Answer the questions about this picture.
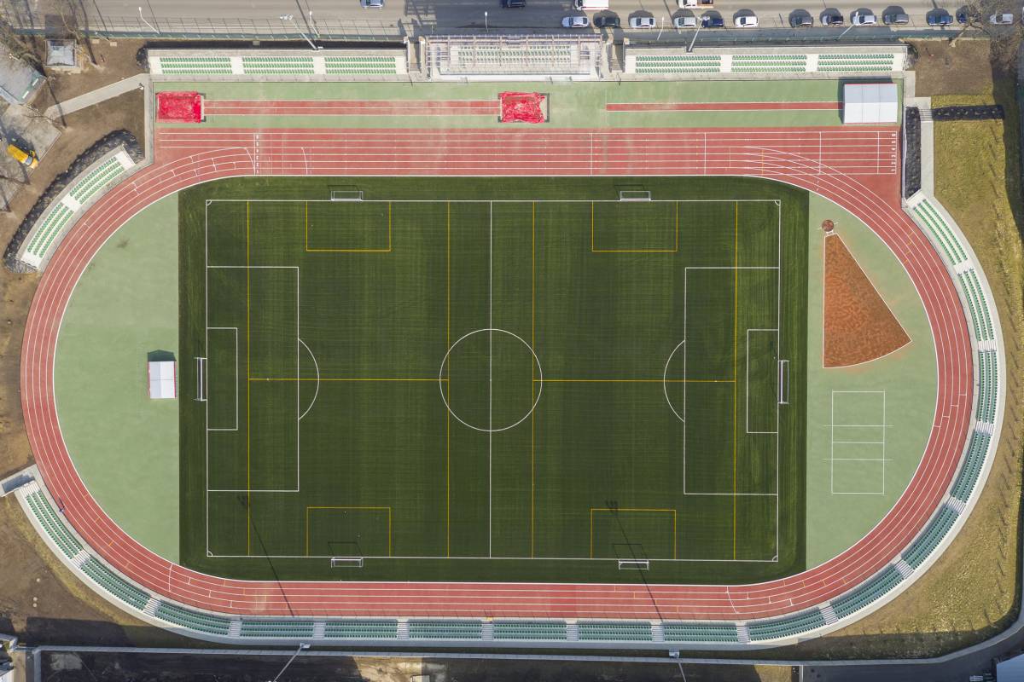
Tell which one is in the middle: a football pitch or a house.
football pitch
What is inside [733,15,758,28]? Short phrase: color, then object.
white vehicle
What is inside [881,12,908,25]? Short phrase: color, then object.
gray vehicle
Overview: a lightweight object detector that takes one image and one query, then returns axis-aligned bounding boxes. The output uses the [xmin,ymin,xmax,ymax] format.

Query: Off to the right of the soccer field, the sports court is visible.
[832,391,885,494]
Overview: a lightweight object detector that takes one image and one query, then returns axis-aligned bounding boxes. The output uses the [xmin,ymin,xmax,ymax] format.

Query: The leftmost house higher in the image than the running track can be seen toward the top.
[0,37,52,106]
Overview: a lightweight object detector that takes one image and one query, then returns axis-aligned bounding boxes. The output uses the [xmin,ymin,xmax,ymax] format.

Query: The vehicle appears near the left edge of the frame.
[4,141,42,171]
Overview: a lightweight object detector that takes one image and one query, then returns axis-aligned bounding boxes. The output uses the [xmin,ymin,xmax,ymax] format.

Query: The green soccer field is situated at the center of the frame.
[178,176,808,585]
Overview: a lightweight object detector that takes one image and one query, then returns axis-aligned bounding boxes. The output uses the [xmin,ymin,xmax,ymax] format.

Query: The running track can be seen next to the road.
[20,127,972,619]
